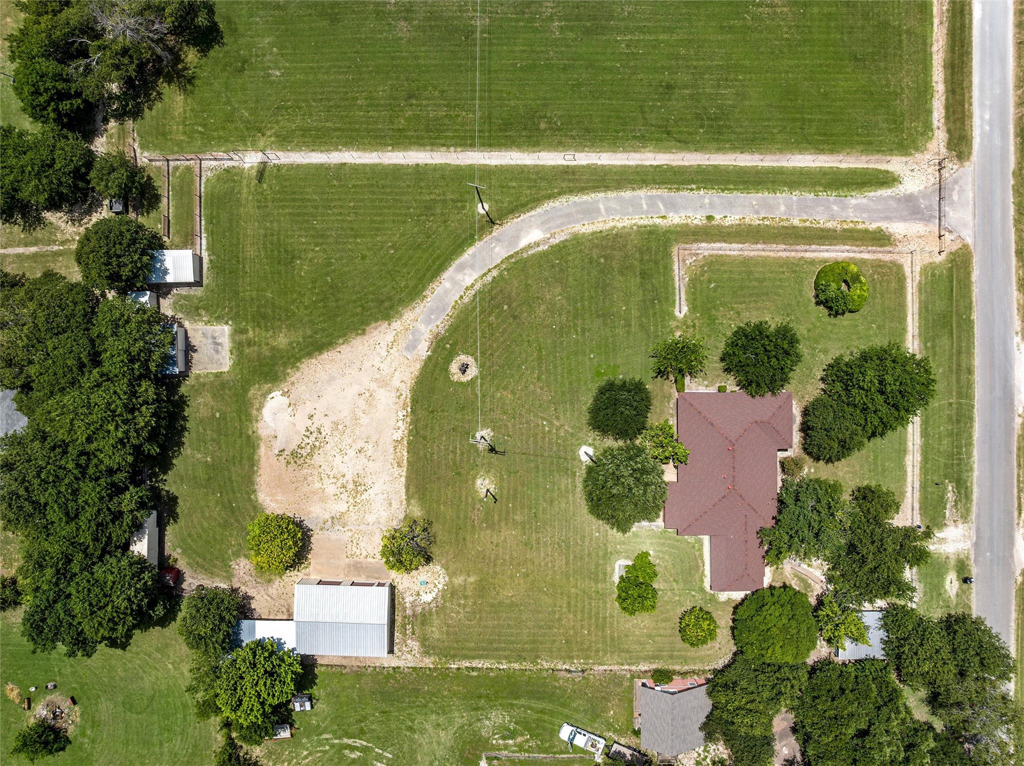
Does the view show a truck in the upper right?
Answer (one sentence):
No, there's no truck to be seen in the upper right.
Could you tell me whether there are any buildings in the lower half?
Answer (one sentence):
Yes, I can see a building in the lower half.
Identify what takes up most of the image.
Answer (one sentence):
For the most part, this view shows grass.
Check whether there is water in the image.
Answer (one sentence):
No, water can't be seen anywhere here.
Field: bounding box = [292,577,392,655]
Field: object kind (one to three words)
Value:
building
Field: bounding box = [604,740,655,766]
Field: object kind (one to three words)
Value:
trailer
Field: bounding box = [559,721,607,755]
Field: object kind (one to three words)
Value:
truck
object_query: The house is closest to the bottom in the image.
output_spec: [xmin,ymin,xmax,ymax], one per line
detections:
[634,680,708,766]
